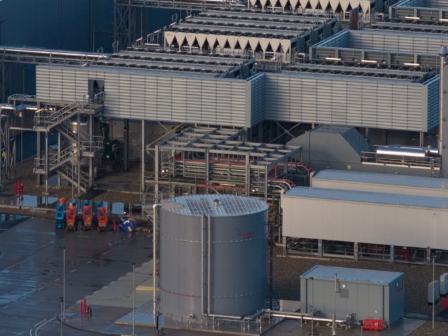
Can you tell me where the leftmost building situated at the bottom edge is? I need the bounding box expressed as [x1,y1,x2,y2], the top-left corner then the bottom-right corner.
[299,260,419,322]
